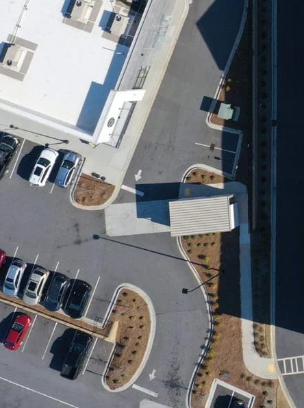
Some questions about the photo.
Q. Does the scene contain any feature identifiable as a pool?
No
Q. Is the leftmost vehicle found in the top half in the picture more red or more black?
black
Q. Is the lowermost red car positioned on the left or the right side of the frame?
left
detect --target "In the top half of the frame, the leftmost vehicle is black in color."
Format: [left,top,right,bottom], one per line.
[0,135,20,182]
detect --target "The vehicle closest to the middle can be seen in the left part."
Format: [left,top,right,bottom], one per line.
[57,150,82,187]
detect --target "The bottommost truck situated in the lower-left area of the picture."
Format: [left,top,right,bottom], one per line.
[60,333,93,380]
